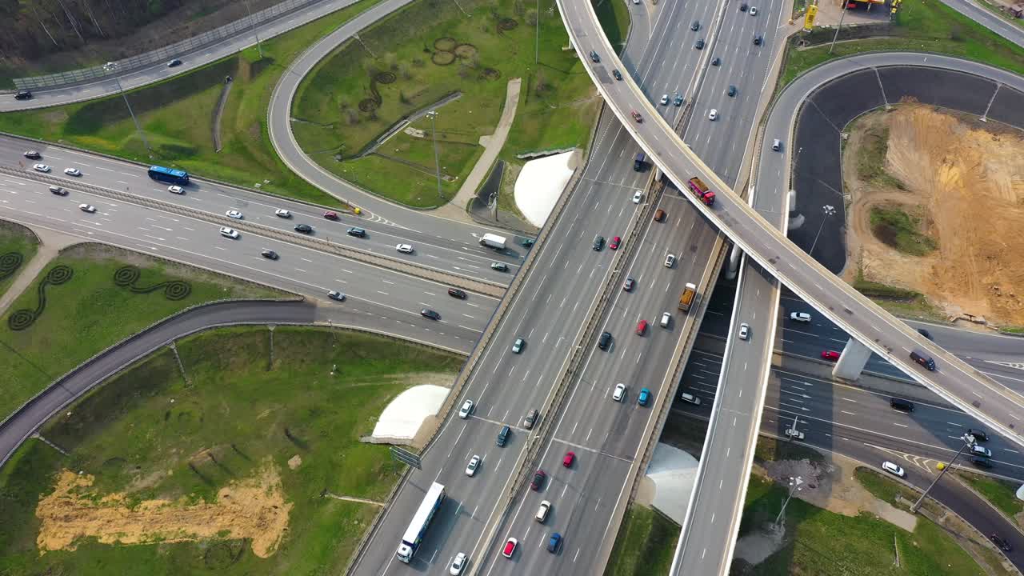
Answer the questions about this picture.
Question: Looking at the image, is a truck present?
Yes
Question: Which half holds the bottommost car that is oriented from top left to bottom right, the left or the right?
right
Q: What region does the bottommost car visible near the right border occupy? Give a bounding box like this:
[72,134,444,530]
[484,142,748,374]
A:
[990,533,1013,554]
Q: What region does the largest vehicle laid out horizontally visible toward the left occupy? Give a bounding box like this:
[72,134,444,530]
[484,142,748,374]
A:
[149,166,187,184]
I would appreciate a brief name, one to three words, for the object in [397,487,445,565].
truck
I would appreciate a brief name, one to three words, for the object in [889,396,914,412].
vehicle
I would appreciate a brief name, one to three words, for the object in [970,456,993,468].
vehicle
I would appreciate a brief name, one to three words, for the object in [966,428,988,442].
car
